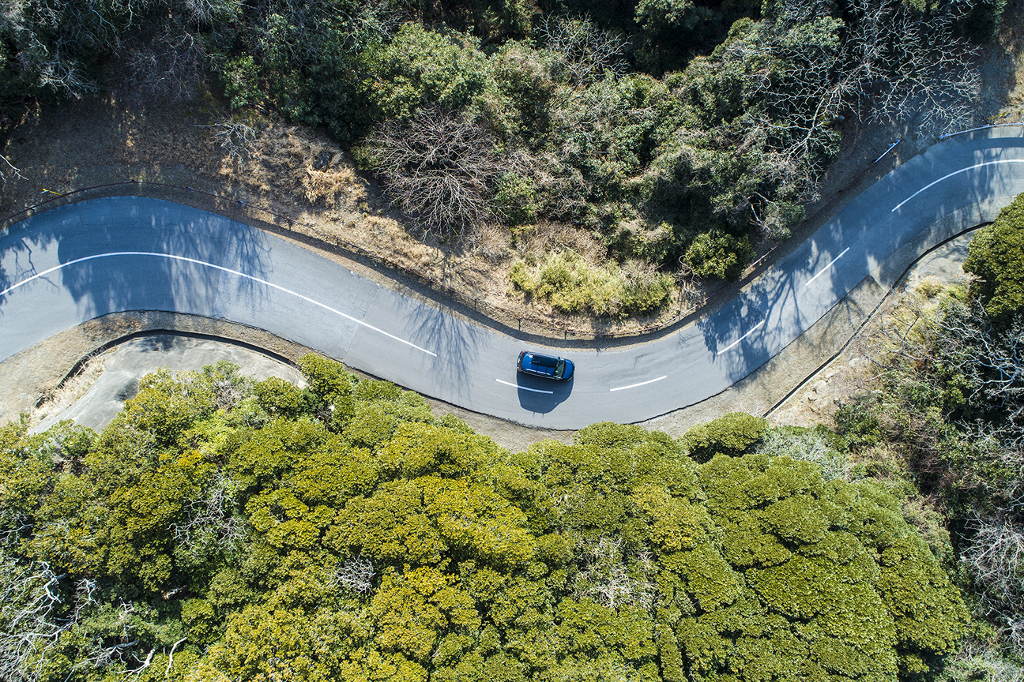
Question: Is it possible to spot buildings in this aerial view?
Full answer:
No, I find no building anywhere in the image.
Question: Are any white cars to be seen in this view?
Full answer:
No, there's no white car here.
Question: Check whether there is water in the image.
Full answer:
No, there's no water in this view.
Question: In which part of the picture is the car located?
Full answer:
Look in the center portion of the view to spot the car.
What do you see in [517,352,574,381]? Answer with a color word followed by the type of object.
blue car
